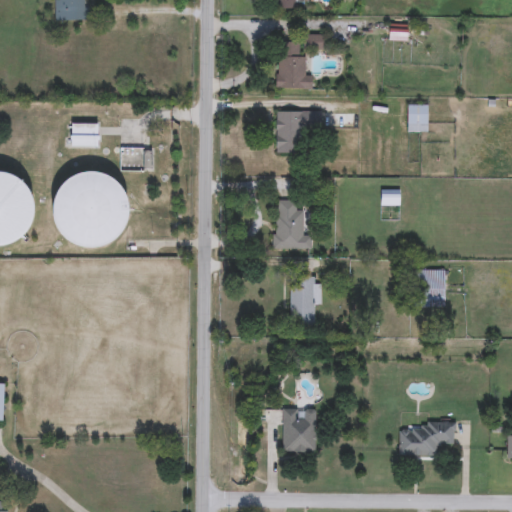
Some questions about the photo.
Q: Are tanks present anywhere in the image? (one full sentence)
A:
Yes, a tank is visible in the scene.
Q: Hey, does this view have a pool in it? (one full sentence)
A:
Yes, looking at the shot, I can spot a pool.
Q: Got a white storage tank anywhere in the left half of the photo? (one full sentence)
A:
Yes, a white storage tank appears in the left half of the photo.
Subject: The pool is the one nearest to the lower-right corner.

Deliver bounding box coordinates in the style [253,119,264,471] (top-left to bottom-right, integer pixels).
[406,382,435,400]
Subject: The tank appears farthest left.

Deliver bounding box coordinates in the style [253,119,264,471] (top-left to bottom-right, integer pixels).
[0,171,36,247]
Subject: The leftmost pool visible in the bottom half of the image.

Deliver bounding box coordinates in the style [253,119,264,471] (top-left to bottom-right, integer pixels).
[296,373,322,407]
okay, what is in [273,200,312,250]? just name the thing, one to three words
house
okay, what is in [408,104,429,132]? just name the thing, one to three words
barn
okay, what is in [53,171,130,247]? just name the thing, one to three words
storage tank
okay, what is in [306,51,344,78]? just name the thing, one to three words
swimming pool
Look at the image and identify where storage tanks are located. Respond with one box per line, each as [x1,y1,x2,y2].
[53,171,130,247]
[0,171,36,247]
